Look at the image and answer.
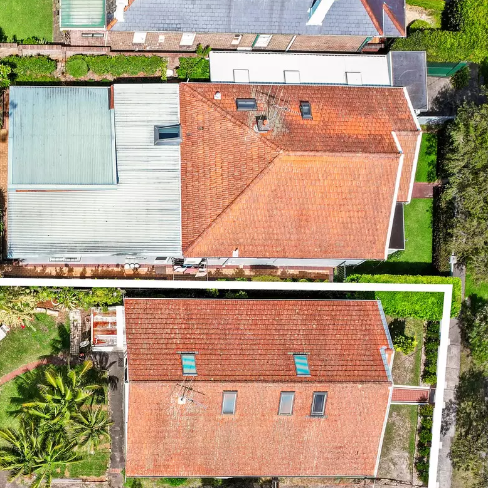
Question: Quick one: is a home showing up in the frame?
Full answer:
Yes, you can see a home in this photo.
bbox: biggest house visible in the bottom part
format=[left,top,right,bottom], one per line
[123,298,396,480]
